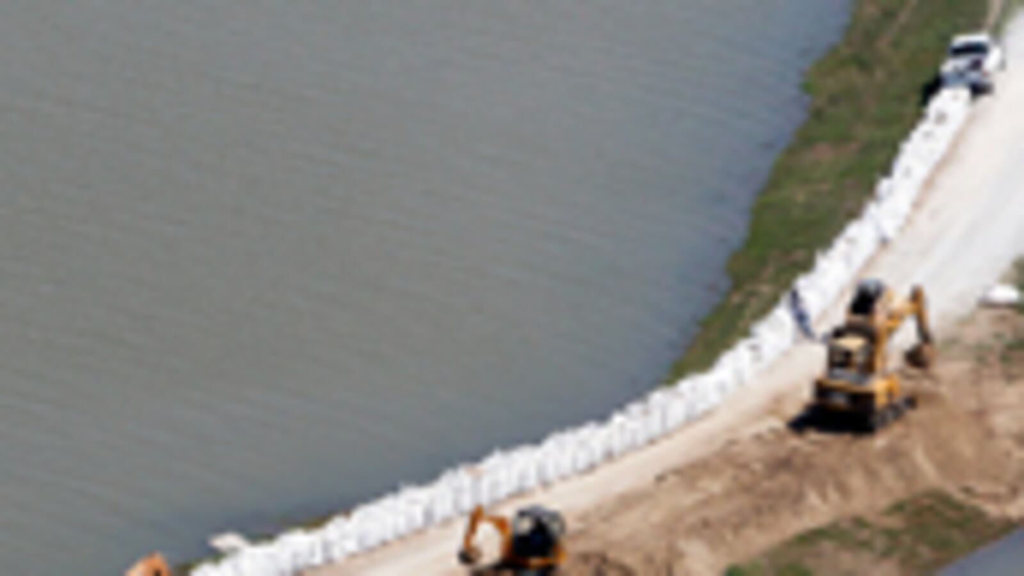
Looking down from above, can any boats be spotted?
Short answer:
No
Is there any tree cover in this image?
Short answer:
No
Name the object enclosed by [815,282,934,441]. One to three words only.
work vehicle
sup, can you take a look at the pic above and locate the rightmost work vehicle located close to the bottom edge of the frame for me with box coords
[460,500,567,576]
